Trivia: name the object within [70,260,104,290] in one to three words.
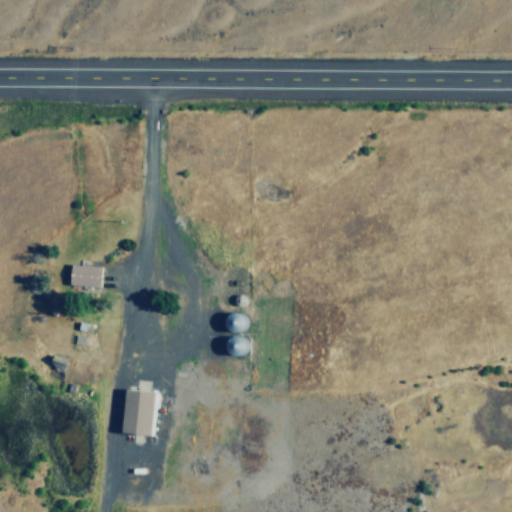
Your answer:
house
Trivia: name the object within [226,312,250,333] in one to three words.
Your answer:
silo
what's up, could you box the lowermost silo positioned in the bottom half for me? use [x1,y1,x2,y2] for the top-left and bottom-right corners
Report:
[226,336,250,356]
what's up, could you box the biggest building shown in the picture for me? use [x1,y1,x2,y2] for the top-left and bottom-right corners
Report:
[124,390,164,436]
